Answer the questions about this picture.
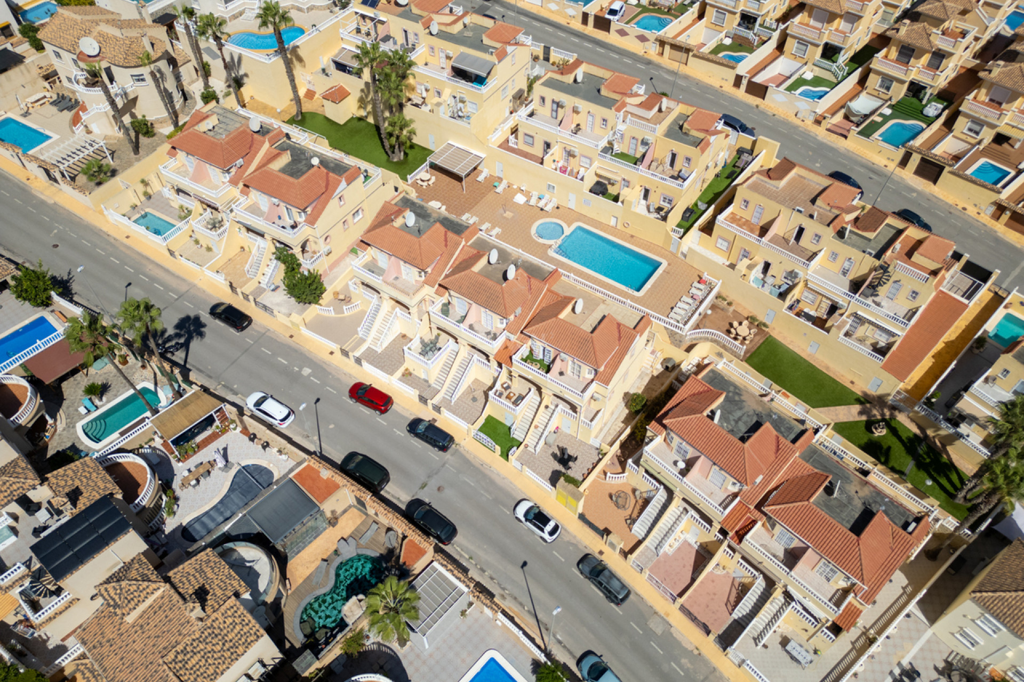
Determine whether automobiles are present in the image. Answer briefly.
Yes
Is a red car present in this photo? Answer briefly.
Yes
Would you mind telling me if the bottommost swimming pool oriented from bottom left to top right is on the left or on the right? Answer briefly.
left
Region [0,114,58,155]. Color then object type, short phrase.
blue swimming pool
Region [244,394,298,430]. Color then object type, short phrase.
white car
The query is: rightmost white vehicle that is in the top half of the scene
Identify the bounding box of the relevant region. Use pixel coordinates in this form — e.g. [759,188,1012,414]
[604,0,626,21]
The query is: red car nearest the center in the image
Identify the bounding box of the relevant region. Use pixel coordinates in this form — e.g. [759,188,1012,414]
[347,386,396,418]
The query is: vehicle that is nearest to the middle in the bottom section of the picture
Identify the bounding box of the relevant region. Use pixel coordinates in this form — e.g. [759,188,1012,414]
[404,418,457,455]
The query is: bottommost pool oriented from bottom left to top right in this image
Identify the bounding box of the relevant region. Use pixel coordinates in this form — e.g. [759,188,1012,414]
[293,547,389,656]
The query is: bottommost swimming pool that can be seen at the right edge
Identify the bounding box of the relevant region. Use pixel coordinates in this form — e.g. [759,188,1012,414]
[981,313,1024,348]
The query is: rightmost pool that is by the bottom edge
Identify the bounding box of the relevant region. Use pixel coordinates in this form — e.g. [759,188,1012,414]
[459,648,530,682]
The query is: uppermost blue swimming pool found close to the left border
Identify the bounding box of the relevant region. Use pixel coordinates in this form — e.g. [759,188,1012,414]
[21,0,63,26]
